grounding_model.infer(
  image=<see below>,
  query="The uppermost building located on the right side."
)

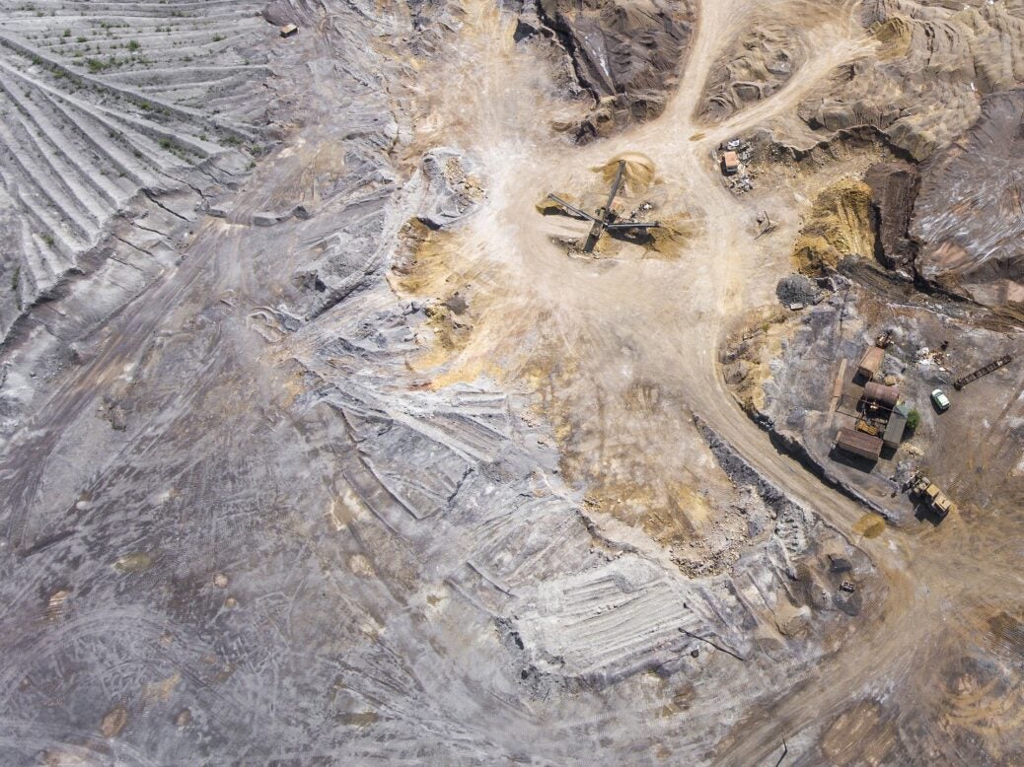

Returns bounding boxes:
[725,150,742,174]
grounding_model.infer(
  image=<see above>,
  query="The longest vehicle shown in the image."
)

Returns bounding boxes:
[910,468,964,513]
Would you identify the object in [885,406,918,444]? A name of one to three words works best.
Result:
shed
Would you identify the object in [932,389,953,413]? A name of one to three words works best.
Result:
car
